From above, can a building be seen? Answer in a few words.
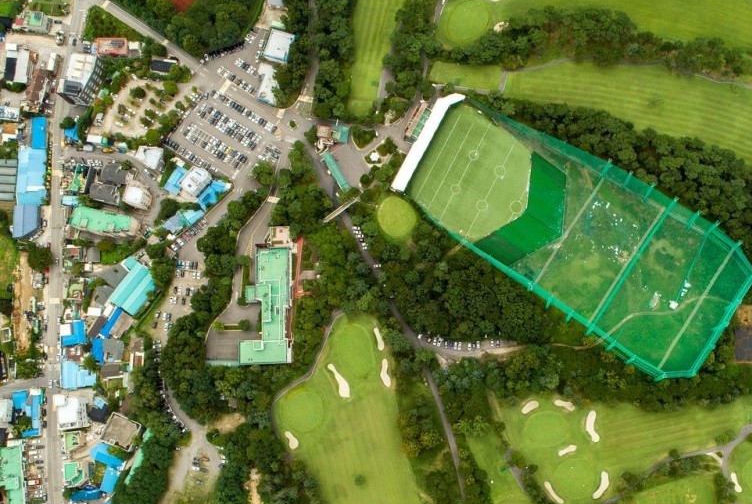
Yes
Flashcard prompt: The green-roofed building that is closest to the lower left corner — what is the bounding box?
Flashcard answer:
[0,444,29,504]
